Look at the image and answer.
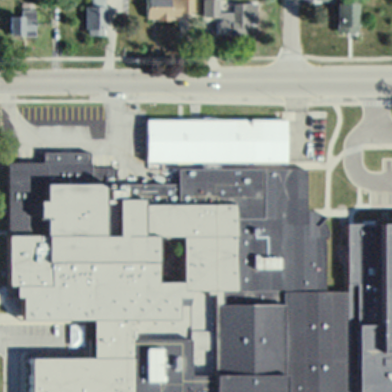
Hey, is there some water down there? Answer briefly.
No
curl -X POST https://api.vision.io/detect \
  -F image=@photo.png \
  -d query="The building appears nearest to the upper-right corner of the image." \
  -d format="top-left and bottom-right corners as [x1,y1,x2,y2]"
[337,2,362,34]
